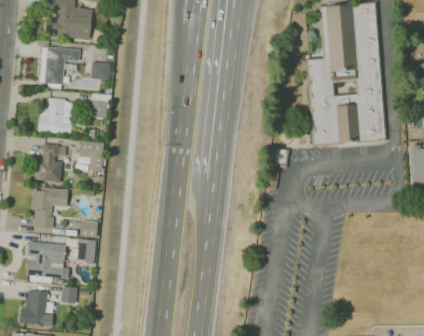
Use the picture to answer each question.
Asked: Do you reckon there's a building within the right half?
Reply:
Yes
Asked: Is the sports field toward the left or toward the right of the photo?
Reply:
right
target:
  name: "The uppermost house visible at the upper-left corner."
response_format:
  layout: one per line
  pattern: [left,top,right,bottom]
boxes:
[52,0,92,40]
